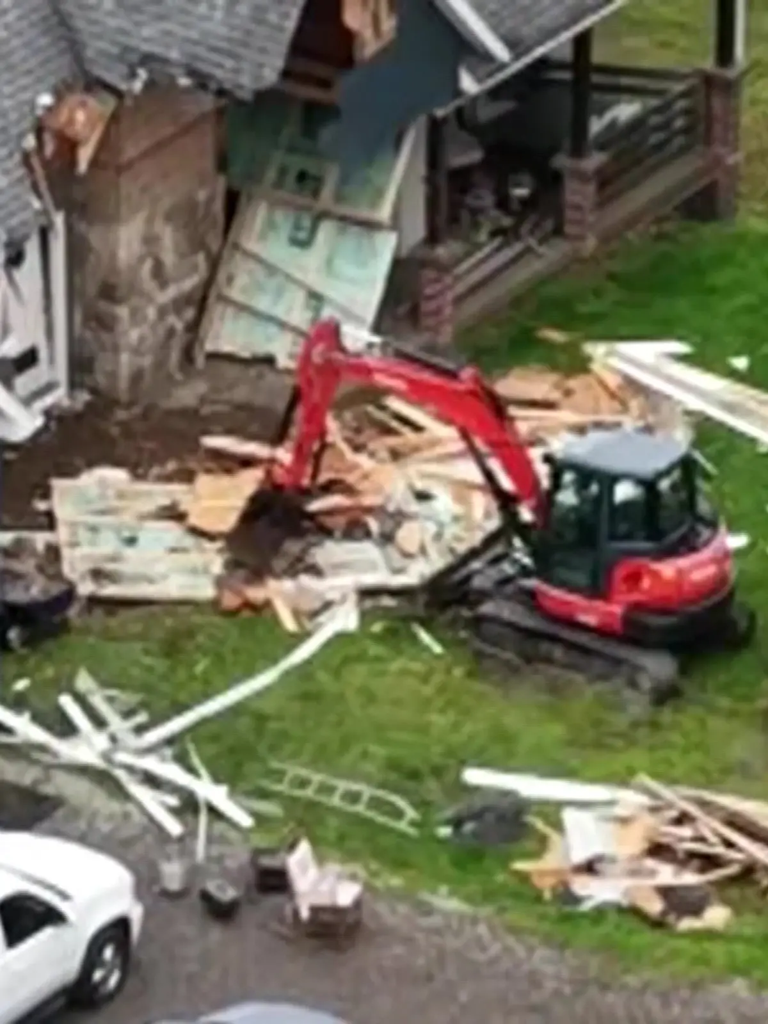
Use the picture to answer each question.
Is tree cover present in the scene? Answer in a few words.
No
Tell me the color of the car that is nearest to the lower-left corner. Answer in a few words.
white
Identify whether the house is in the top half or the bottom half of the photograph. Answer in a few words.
top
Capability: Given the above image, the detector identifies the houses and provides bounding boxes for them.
[0,0,753,445]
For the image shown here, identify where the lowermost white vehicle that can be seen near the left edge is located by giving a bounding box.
[0,812,137,1024]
